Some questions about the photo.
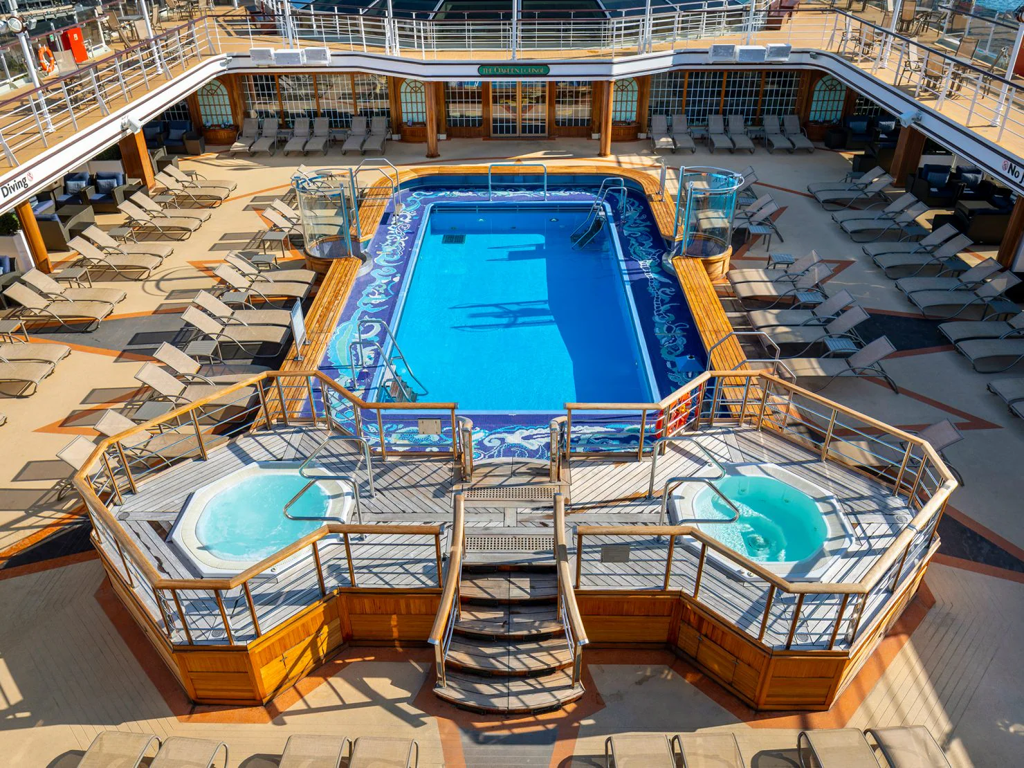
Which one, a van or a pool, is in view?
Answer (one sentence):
I can see a pool in this picture.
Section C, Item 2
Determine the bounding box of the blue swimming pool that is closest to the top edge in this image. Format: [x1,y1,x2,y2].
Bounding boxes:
[368,200,663,416]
